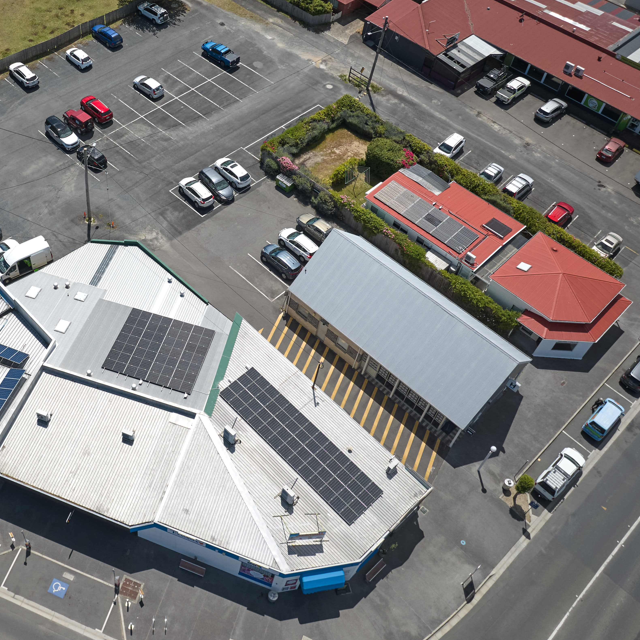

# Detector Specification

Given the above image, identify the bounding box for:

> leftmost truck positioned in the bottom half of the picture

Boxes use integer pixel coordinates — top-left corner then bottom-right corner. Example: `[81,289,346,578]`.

[530,440,593,504]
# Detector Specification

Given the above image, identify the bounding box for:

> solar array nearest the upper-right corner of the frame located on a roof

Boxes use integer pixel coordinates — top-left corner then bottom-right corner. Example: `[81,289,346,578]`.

[375,181,478,253]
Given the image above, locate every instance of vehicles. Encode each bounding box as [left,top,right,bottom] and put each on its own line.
[0,230,55,280]
[256,240,308,278]
[616,352,640,396]
[194,164,237,203]
[58,105,96,135]
[578,393,630,445]
[593,136,629,163]
[78,95,114,123]
[437,128,470,159]
[211,156,255,189]
[173,176,218,211]
[587,227,631,263]
[288,208,349,243]
[483,157,513,181]
[72,143,112,171]
[8,62,41,90]
[504,169,540,195]
[492,75,535,103]
[532,96,571,123]
[472,66,514,94]
[530,440,593,504]
[539,196,583,226]
[64,47,94,70]
[199,39,243,68]
[134,74,168,98]
[274,224,322,261]
[43,116,79,149]
[90,24,124,48]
